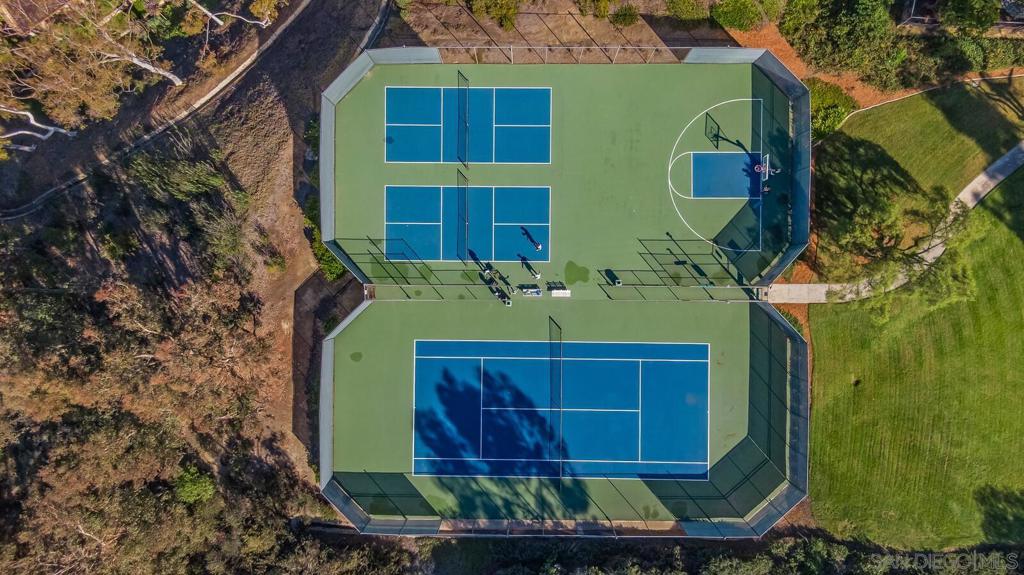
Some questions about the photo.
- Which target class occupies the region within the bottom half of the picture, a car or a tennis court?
tennis court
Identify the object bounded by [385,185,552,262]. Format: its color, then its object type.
blue sports court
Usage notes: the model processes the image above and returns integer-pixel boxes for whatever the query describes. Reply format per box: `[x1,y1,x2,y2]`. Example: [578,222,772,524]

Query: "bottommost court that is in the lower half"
[413,340,710,480]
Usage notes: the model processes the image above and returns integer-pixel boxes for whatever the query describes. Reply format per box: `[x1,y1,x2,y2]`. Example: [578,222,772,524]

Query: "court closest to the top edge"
[385,87,552,163]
